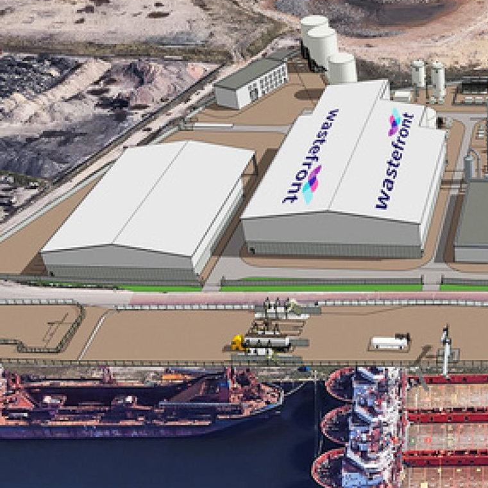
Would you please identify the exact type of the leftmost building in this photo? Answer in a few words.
warehouse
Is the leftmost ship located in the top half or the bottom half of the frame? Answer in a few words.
bottom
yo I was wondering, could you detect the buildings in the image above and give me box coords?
[241,76,448,258]
[455,180,488,265]
[39,139,256,282]
[214,53,301,106]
